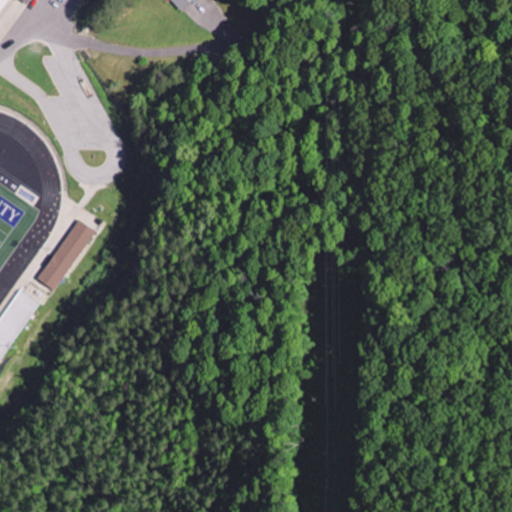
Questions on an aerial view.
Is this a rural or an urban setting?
rural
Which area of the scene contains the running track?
left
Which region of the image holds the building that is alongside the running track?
left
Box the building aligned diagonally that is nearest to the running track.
[36,219,96,292]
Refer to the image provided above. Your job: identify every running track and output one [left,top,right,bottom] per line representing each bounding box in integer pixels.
[0,113,62,302]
